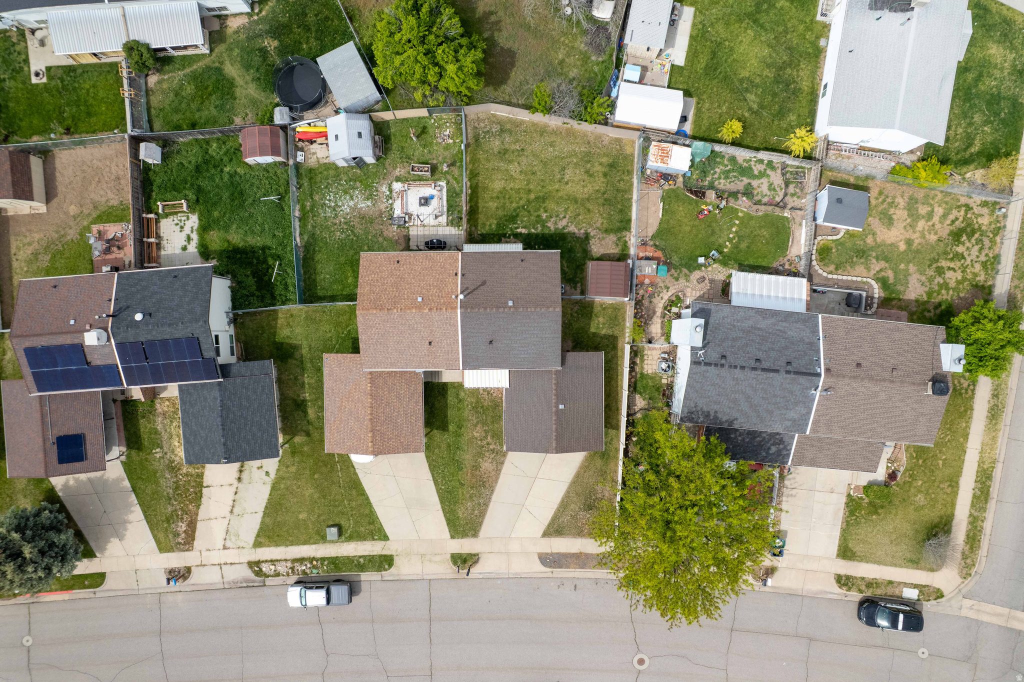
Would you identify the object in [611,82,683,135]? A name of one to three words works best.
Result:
building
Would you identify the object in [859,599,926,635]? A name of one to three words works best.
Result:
car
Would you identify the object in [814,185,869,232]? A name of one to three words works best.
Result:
shed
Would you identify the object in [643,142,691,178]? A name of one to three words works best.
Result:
shed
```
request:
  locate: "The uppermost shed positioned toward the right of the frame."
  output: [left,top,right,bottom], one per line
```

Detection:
[621,0,673,60]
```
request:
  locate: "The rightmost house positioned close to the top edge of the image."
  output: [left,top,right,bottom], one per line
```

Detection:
[814,0,972,153]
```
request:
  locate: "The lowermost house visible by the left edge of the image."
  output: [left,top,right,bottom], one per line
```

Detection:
[0,263,284,477]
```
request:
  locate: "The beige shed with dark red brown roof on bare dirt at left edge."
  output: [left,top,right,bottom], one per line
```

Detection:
[0,149,51,214]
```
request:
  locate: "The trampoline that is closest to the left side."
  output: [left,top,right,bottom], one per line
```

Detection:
[269,52,329,116]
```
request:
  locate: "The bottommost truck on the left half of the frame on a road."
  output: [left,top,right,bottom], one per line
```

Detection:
[285,584,353,617]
